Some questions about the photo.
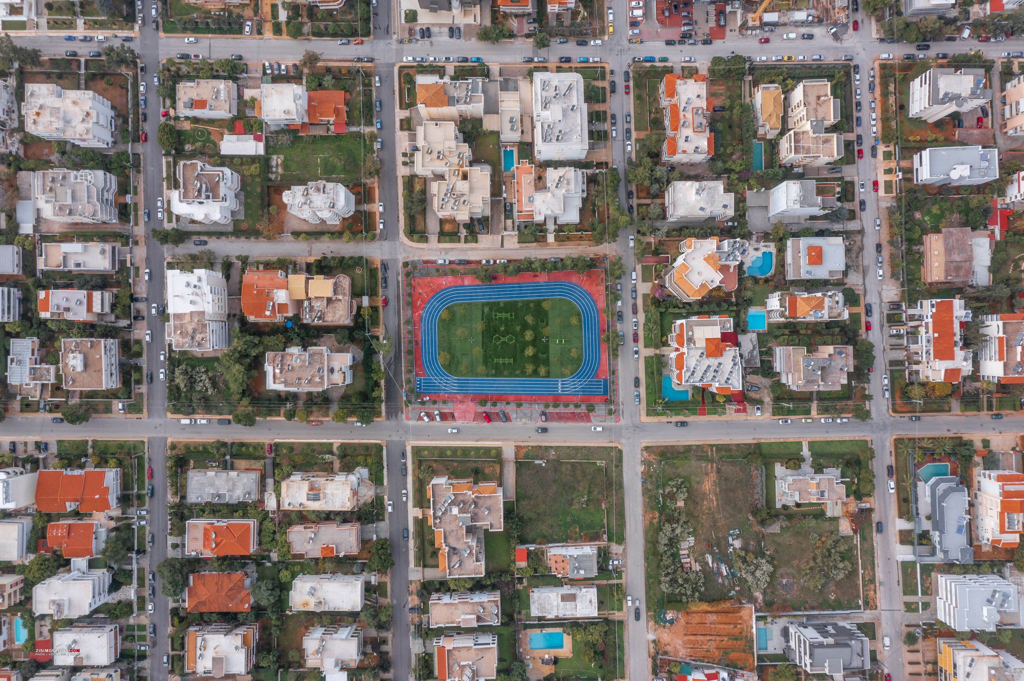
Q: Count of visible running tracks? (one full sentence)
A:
The photo contains exactly 1 running track.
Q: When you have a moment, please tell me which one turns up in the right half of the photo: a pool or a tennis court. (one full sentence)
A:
Looking in the right half of the photo, you will find a pool.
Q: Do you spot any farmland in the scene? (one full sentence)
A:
No, the scene doesn't show any farmland.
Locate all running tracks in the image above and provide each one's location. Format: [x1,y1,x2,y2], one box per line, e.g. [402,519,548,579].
[411,269,609,403]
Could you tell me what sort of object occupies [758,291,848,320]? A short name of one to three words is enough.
house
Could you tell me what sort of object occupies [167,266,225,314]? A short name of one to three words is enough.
building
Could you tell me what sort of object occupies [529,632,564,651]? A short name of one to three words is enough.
swimming pool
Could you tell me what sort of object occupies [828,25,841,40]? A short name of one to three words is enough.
vehicle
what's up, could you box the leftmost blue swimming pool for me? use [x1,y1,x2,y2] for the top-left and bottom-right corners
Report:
[14,618,28,646]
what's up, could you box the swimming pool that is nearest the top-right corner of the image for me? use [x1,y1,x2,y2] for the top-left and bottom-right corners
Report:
[752,139,764,175]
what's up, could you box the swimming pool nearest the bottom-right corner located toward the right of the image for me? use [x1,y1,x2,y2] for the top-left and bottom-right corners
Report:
[917,463,951,475]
